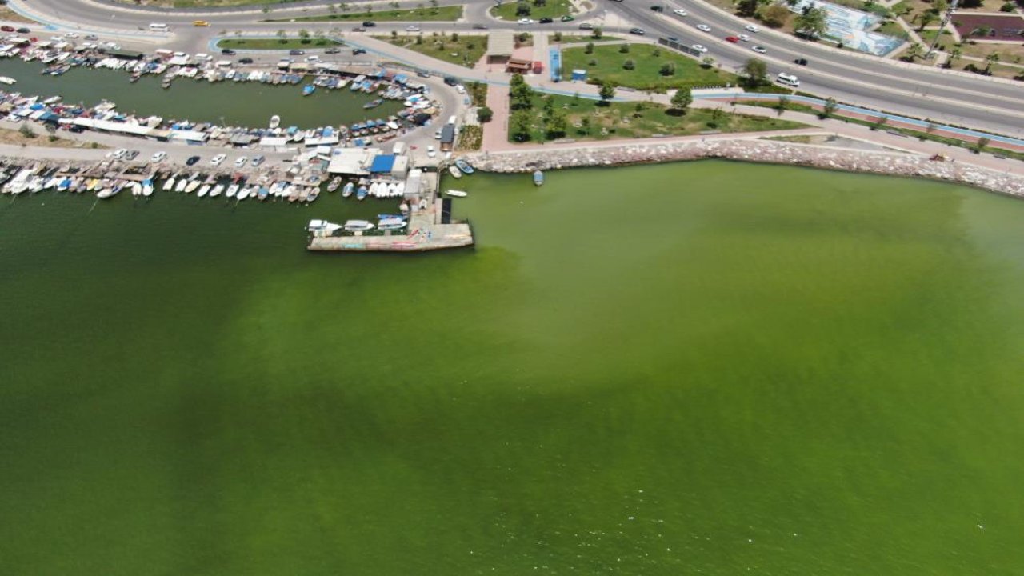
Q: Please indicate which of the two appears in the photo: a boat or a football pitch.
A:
boat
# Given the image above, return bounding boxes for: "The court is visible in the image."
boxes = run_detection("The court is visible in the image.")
[952,14,1024,45]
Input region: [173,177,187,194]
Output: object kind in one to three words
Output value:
boat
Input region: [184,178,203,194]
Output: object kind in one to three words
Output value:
boat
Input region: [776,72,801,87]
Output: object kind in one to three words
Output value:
vehicle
